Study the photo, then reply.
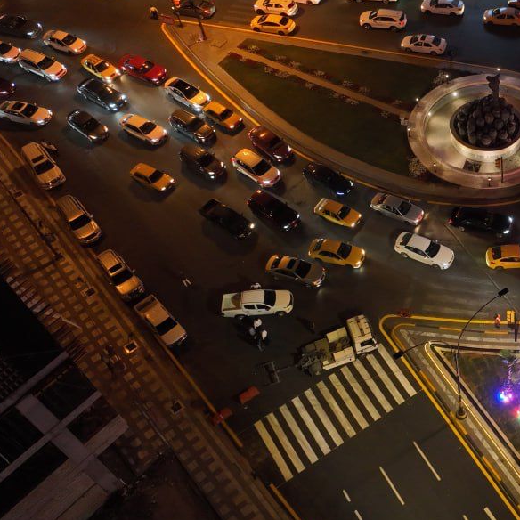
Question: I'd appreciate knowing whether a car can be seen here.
Yes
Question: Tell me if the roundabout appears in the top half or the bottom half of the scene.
top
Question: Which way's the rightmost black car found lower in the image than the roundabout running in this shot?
from left to right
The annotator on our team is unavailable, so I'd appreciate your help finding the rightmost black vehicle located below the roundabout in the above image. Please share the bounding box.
[452,206,510,236]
